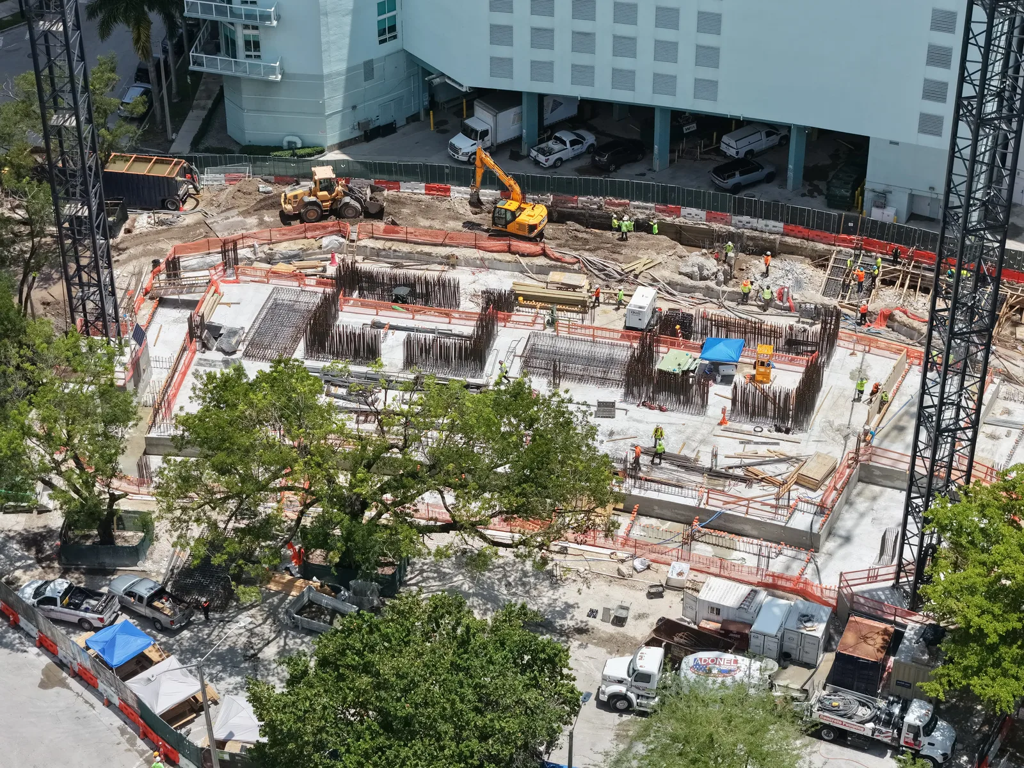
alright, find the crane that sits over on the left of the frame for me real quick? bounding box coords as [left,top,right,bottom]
[24,0,129,347]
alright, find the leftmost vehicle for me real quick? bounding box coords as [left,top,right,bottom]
[12,568,120,631]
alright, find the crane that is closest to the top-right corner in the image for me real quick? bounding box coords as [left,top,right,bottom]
[886,0,1024,613]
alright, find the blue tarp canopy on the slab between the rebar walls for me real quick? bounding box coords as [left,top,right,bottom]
[698,337,744,386]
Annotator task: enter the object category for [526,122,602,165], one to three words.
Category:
truck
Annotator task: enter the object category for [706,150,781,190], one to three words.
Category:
car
